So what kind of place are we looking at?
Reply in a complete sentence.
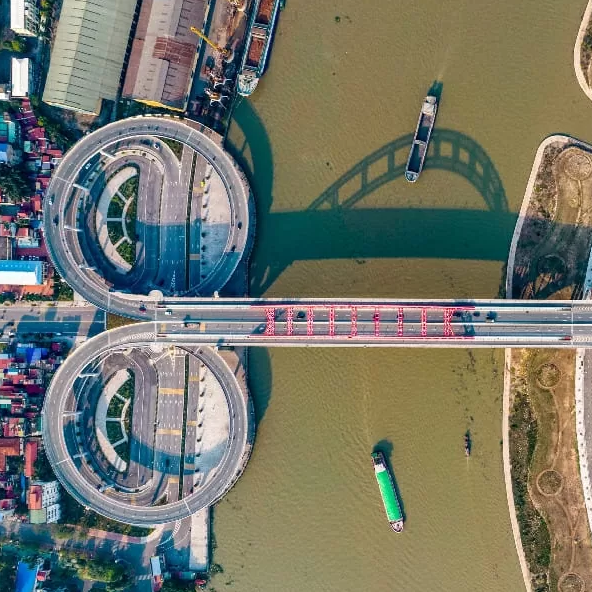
The picture captures a port.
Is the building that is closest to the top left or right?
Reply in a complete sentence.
The building that is closest to the top is on the left side of the image.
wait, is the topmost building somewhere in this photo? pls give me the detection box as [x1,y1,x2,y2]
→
[11,0,37,35]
